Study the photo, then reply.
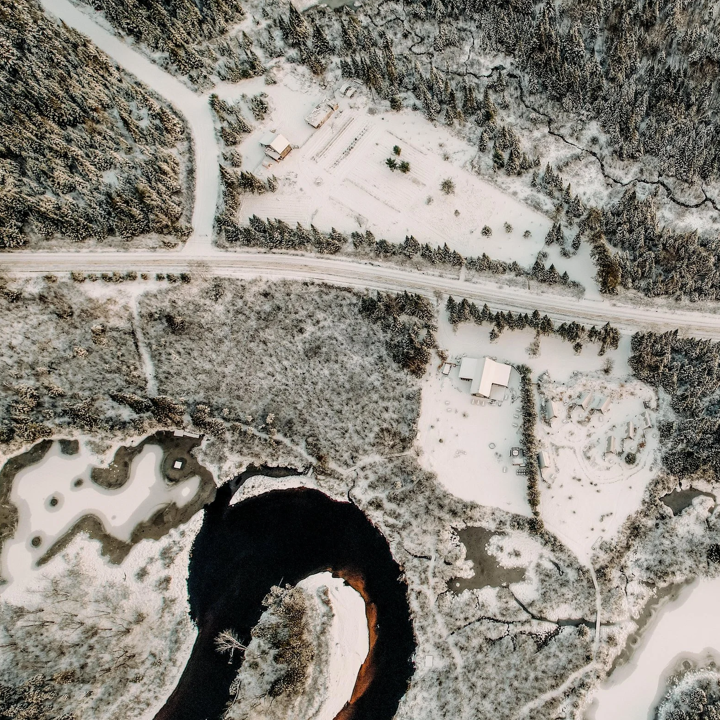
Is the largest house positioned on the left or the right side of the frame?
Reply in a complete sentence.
You can find the largest house on the right side of the picture.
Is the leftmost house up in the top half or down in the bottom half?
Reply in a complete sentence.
It is in the top half that the leftmost house appears.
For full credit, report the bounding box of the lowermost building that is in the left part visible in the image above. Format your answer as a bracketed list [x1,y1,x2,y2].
[261,130,292,163]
